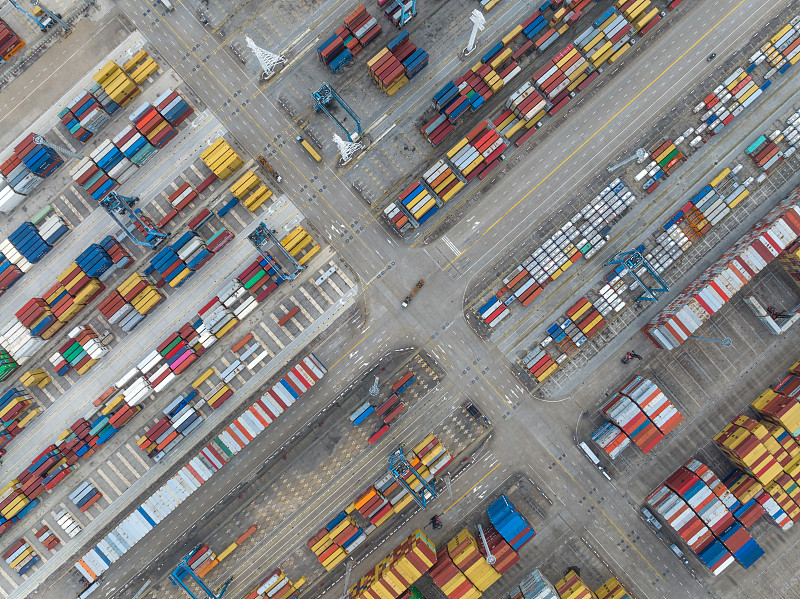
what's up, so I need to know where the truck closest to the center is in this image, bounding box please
[401,283,425,309]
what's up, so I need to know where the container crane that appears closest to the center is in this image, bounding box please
[248,223,311,282]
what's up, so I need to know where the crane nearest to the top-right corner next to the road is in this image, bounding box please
[602,248,676,307]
